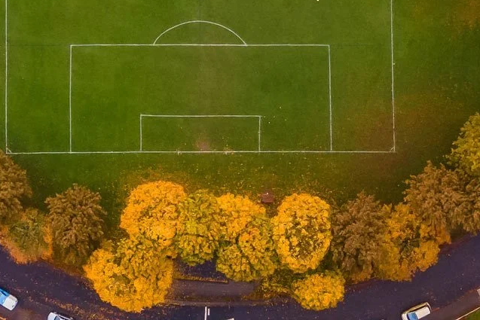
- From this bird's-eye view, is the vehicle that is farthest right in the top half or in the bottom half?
bottom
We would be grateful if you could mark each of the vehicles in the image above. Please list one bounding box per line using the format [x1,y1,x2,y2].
[397,298,433,320]
[45,308,72,320]
[0,286,20,313]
